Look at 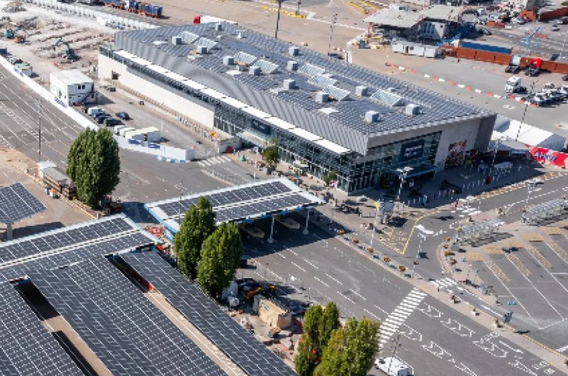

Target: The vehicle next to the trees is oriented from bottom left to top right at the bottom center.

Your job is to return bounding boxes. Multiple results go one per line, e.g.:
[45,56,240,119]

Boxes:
[241,257,276,292]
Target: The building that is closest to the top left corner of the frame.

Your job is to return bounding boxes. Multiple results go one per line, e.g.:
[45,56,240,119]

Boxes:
[39,68,98,107]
